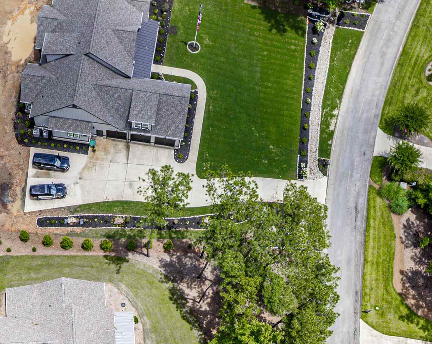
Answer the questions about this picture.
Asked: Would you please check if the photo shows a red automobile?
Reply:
No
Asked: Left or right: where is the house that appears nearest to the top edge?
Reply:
left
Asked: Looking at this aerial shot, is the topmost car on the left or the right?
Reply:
left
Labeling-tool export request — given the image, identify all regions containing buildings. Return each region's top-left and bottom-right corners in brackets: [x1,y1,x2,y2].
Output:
[20,0,191,147]
[0,278,136,344]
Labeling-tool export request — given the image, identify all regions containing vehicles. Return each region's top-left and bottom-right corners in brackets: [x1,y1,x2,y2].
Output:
[37,148,74,170]
[31,183,65,201]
